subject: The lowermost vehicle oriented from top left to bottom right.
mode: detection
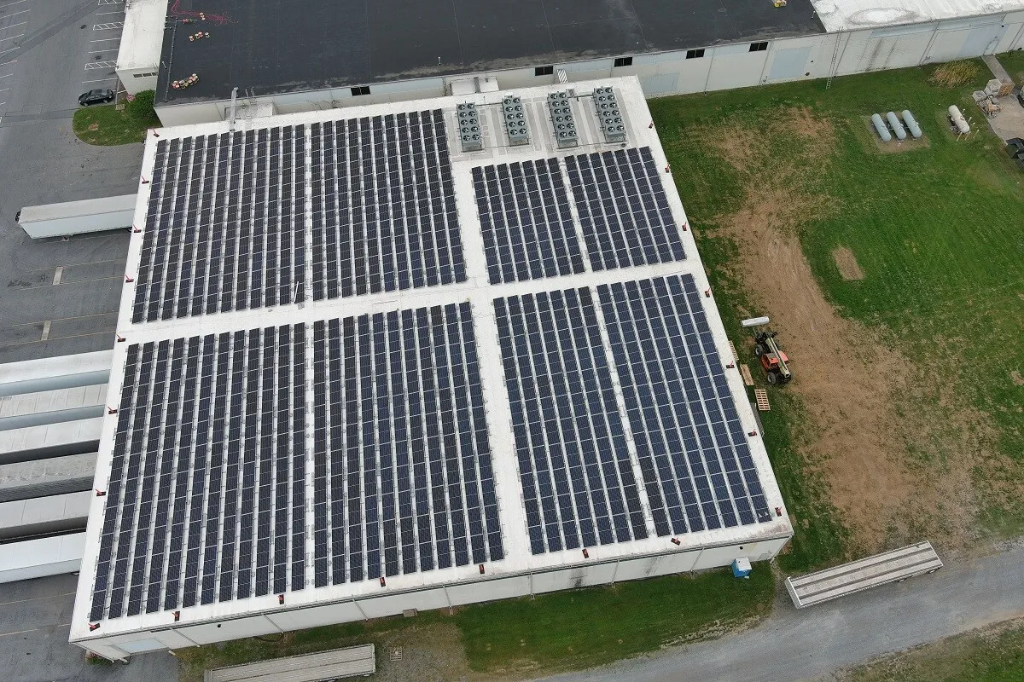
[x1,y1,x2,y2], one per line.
[749,328,798,385]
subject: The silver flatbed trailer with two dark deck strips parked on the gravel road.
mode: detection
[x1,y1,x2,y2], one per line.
[785,541,945,611]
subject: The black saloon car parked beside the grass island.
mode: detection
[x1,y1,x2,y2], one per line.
[77,84,114,103]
